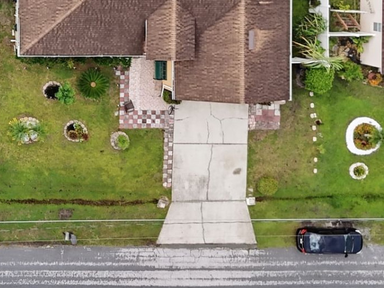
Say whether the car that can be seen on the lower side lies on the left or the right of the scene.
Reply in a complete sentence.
The car that can be seen on the lower side is on the right side of the image.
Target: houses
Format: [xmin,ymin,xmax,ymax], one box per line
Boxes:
[362,0,384,75]
[14,0,294,103]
